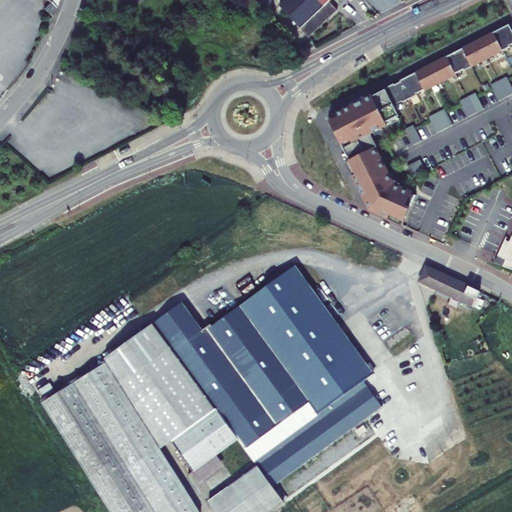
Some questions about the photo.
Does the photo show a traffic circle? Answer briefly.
Yes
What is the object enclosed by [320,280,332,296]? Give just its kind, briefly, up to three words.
vehicle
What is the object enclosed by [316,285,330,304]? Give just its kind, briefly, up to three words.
vehicle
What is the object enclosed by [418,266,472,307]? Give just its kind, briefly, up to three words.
house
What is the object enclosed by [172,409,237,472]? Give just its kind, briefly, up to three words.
building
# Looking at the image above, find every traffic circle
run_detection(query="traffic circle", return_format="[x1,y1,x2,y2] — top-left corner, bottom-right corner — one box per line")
[208,78,284,154]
